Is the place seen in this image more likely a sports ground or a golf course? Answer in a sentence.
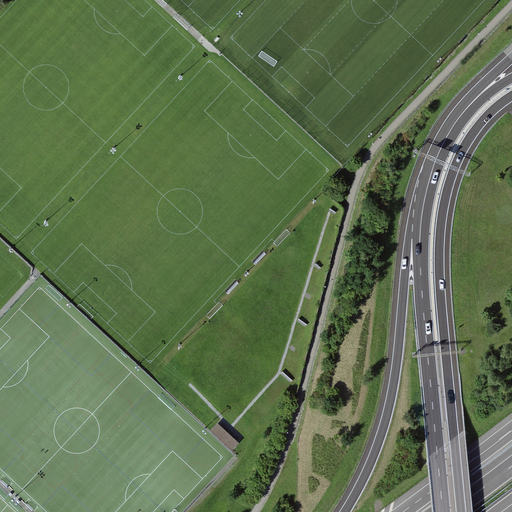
What you see here is a sports ground.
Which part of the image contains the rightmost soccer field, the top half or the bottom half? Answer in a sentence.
It is in the top half that the rightmost soccer field appears.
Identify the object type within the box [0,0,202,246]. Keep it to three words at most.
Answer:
soccer field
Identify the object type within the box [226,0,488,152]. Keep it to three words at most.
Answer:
soccer field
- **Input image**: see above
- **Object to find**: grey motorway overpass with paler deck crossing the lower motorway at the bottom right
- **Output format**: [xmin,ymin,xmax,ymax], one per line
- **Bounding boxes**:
[424,410,474,512]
